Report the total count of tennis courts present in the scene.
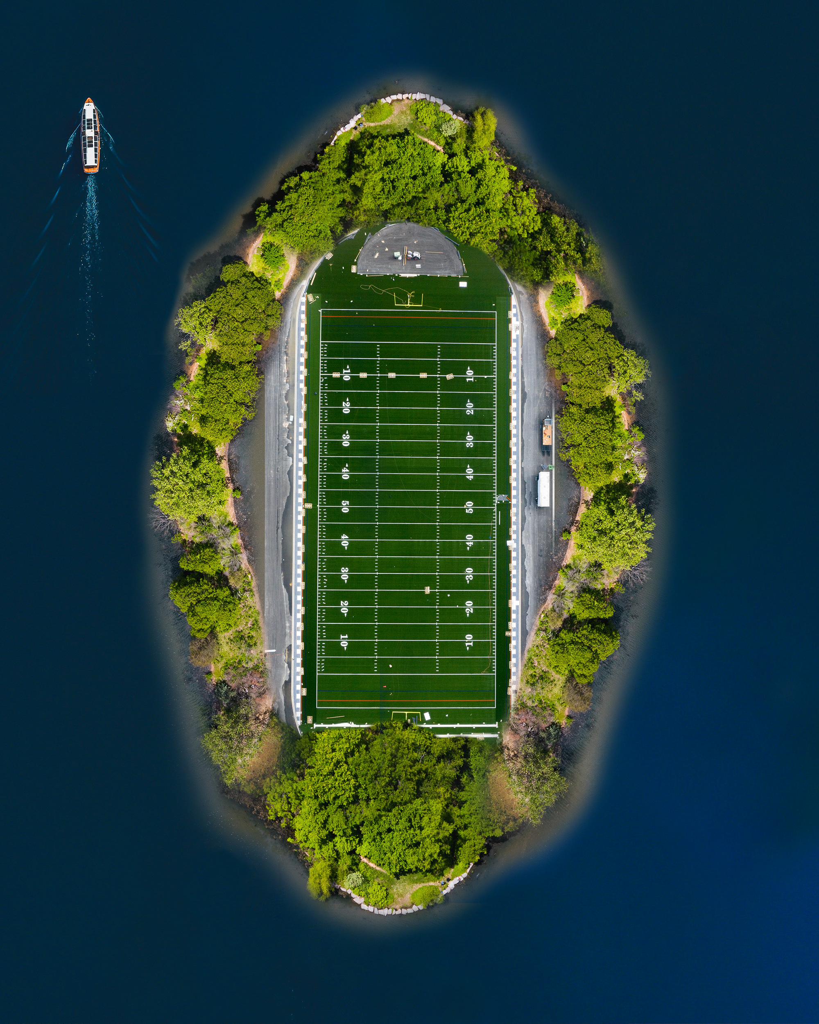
none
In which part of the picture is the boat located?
top left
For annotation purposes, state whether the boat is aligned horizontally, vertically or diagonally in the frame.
vertically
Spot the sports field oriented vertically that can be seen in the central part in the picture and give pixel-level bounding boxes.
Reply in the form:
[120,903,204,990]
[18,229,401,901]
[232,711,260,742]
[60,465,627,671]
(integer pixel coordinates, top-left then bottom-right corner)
[300,219,512,740]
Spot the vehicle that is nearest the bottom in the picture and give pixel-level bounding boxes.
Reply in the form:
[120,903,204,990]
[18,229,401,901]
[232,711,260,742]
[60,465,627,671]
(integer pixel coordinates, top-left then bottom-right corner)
[538,472,552,508]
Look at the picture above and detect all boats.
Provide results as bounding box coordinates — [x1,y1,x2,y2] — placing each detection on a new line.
[80,98,101,174]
